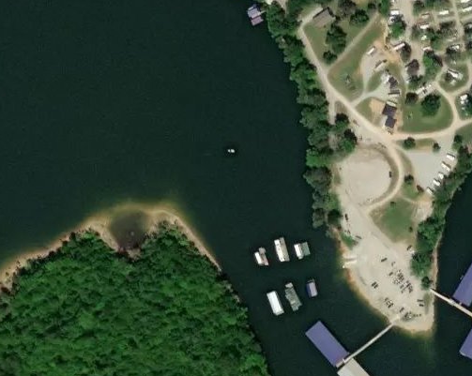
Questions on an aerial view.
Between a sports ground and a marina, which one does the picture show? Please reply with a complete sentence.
It's a marina.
